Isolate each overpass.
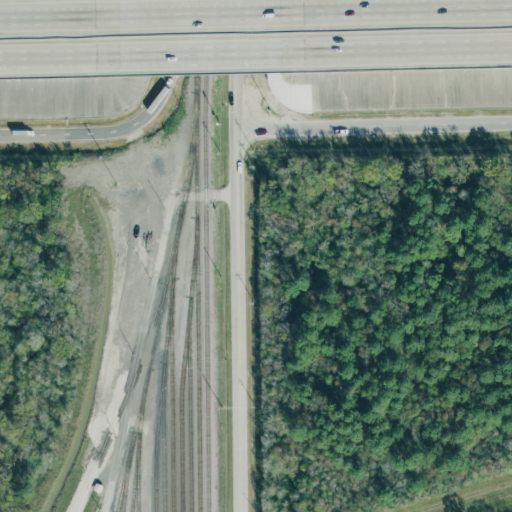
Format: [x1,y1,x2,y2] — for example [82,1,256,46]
[96,0,306,76]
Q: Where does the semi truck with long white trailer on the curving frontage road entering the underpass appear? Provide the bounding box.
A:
[146,78,176,114]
